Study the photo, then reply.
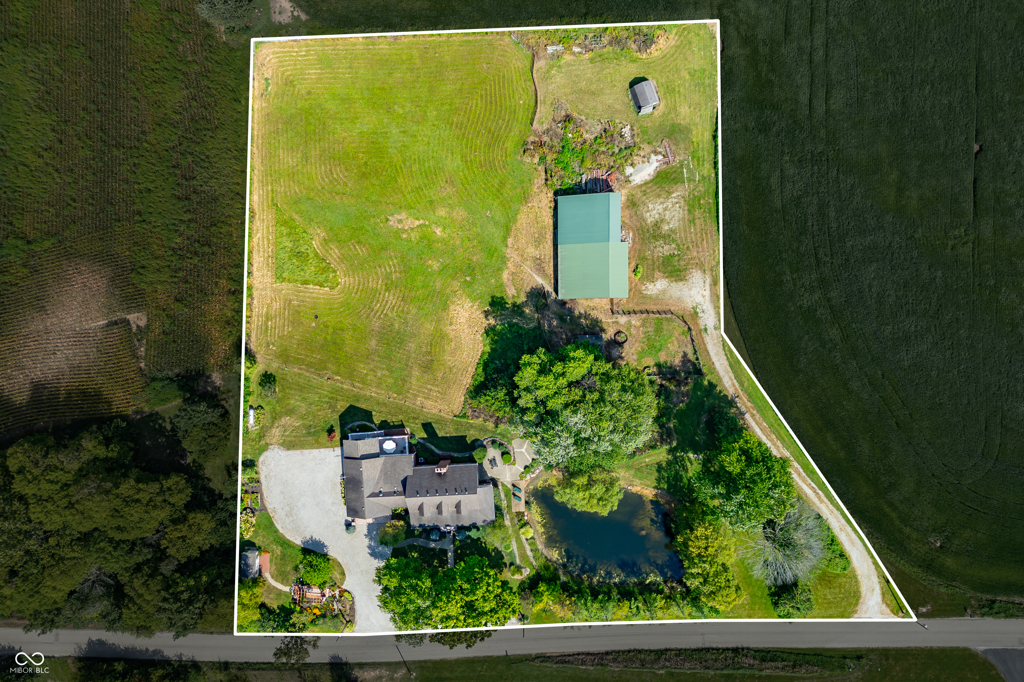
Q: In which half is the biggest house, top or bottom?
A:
bottom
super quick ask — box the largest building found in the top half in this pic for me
[557,193,629,299]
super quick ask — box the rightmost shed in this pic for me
[629,81,659,121]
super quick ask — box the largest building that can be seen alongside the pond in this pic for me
[339,427,496,533]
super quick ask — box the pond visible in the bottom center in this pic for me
[534,482,678,583]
